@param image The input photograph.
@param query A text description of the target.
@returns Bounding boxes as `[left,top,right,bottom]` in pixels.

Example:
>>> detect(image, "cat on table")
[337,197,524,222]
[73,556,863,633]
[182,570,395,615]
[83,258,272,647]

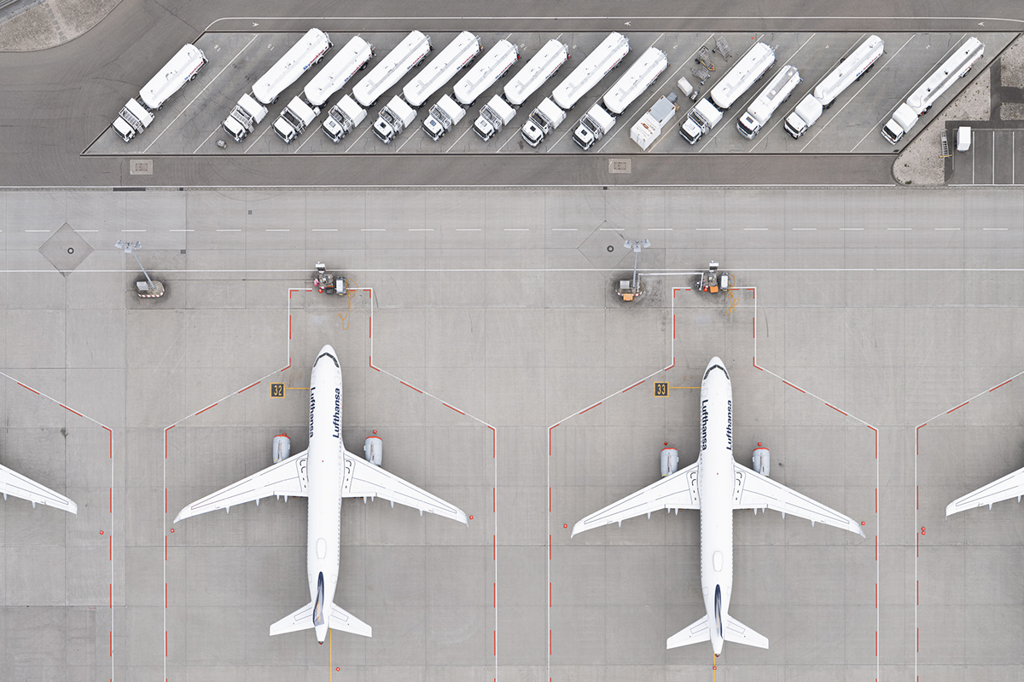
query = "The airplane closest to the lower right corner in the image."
[946,466,1024,517]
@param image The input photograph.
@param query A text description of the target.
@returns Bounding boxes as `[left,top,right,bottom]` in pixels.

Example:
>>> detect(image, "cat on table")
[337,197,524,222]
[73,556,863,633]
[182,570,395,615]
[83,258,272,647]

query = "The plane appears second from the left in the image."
[175,346,468,646]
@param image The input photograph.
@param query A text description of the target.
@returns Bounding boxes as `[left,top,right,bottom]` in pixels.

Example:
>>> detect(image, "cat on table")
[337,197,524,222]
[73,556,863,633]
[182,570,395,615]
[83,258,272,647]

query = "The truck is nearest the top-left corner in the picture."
[108,43,206,147]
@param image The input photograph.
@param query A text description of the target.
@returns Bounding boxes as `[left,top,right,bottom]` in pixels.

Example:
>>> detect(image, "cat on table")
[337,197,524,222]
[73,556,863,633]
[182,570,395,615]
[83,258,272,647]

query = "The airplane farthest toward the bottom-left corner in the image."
[0,463,78,514]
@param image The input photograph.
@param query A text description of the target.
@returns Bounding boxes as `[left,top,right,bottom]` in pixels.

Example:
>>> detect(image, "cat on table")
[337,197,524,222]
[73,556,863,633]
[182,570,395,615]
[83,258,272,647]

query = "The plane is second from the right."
[571,358,865,657]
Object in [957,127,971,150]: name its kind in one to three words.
vehicle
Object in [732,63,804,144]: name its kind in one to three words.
truck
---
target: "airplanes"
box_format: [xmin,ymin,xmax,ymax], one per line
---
[571,358,865,657]
[946,466,1024,517]
[0,463,78,514]
[175,346,468,646]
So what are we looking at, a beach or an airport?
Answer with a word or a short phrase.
airport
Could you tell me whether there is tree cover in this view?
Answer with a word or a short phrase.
No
